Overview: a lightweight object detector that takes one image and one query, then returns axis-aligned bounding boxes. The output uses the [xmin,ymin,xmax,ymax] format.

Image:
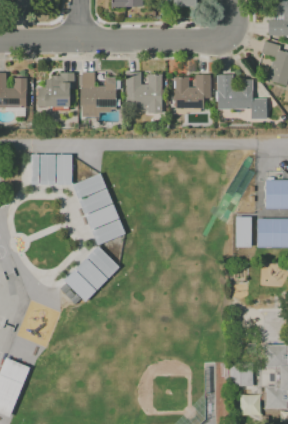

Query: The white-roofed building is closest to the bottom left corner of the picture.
[0,357,28,418]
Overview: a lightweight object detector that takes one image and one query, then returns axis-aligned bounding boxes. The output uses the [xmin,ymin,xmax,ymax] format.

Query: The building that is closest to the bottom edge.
[240,396,260,416]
